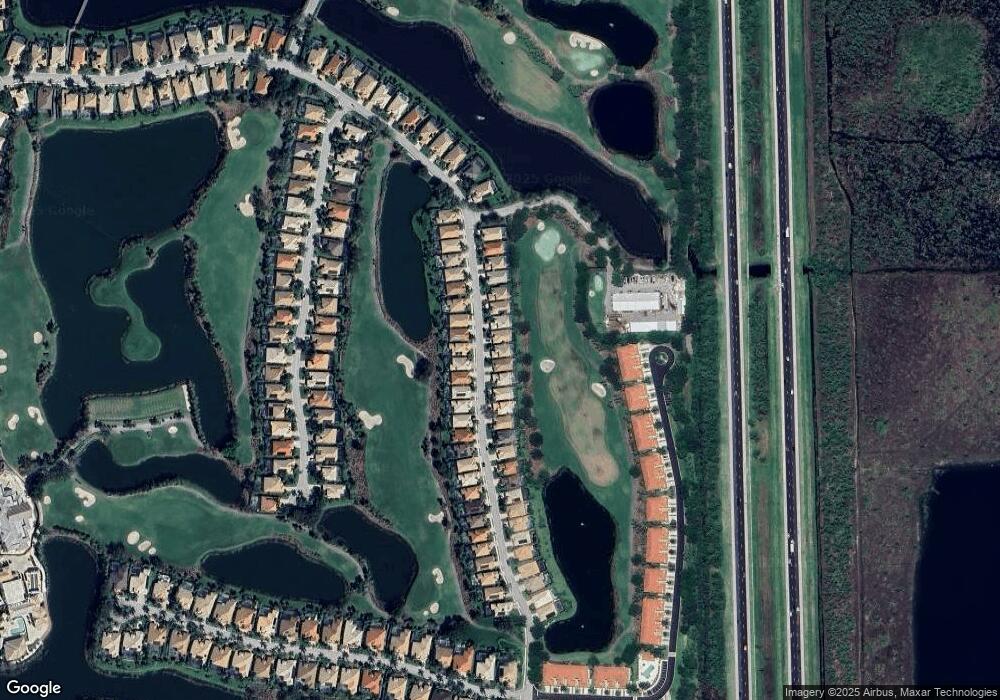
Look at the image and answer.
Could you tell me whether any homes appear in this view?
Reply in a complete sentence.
Yes, the picture does show a home.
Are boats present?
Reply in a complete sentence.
No, no boat can be seen from above.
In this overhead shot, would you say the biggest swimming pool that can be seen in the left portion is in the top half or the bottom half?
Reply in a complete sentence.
The biggest swimming pool that can be seen in the left portion is in the bottom half of the image.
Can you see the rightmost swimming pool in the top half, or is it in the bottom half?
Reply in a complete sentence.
You can find the rightmost swimming pool in the bottom half.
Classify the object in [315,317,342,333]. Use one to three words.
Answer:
house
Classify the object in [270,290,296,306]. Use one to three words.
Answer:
house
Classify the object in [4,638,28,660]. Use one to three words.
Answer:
building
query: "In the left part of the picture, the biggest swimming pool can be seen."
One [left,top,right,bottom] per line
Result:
[4,615,26,637]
